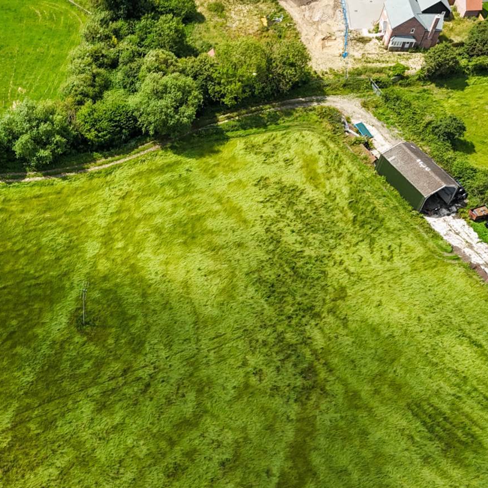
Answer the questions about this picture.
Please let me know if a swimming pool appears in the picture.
No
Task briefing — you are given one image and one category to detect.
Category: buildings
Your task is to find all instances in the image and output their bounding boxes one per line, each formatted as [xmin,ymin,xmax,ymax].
[378,142,463,207]
[458,0,483,22]
[384,0,458,52]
